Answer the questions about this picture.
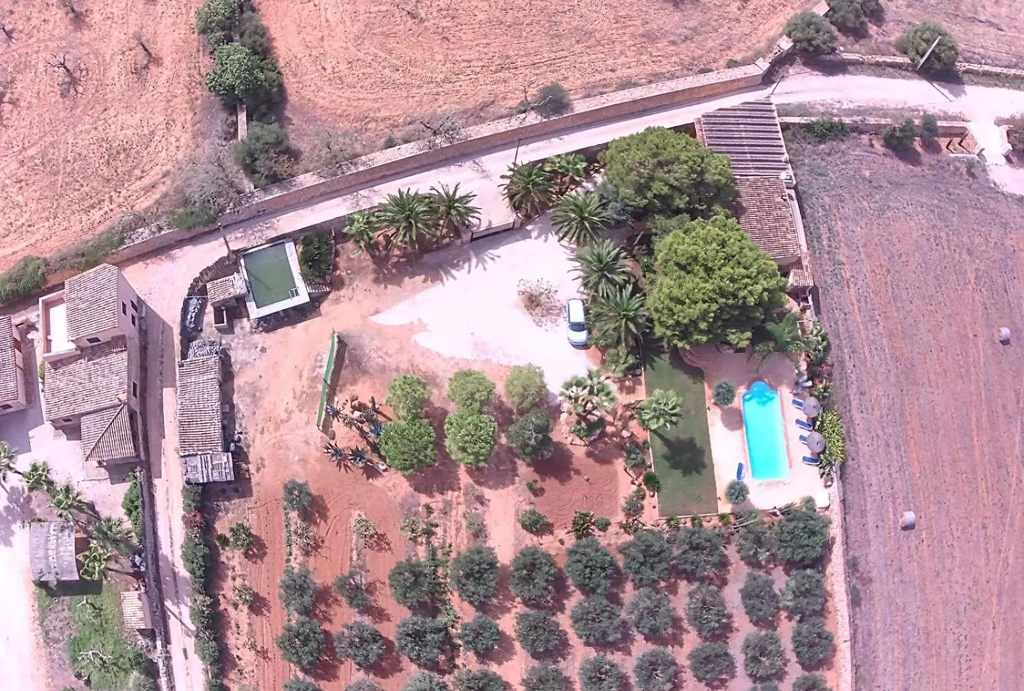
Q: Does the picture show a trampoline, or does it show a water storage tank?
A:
water storage tank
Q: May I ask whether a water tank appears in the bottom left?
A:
No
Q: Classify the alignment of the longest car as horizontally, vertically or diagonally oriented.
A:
vertically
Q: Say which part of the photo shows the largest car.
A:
center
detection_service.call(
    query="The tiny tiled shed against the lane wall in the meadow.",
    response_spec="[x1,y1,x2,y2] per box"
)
[120,593,150,630]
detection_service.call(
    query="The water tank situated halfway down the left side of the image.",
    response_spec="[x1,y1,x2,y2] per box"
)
[239,237,312,325]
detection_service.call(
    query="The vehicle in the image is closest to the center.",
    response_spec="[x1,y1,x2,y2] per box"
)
[566,300,591,349]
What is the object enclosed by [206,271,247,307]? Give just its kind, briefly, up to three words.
shed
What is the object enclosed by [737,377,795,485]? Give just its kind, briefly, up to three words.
swimming pool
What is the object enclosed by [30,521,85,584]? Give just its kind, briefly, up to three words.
shed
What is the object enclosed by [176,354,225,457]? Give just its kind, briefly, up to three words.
barn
